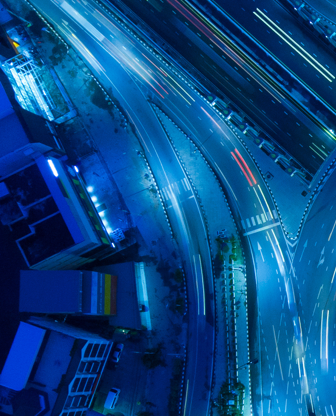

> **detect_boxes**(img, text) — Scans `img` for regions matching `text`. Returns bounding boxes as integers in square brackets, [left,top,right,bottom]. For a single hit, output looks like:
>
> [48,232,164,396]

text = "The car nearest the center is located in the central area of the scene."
[170,193,183,212]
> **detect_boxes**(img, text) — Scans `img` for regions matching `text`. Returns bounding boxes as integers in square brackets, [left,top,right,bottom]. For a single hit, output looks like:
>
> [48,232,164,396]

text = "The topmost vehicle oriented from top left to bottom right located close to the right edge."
[316,62,333,79]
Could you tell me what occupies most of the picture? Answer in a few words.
paved ground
